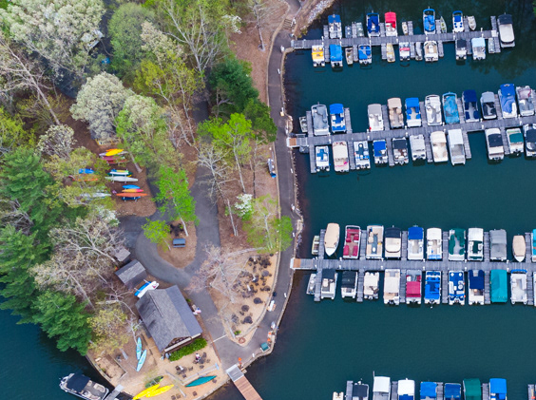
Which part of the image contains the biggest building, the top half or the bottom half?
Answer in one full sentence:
Seen from above, the biggest building lies in the bottom half of the view.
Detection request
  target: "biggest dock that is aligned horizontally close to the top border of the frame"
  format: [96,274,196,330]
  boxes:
[304,17,500,64]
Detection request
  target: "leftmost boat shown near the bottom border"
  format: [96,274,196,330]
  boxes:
[59,373,109,400]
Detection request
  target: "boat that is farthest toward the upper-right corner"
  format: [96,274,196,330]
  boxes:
[498,14,514,48]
